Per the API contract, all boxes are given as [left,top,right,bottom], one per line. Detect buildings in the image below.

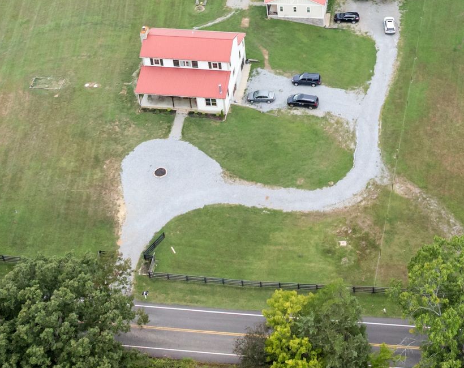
[263,0,328,26]
[132,18,248,115]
